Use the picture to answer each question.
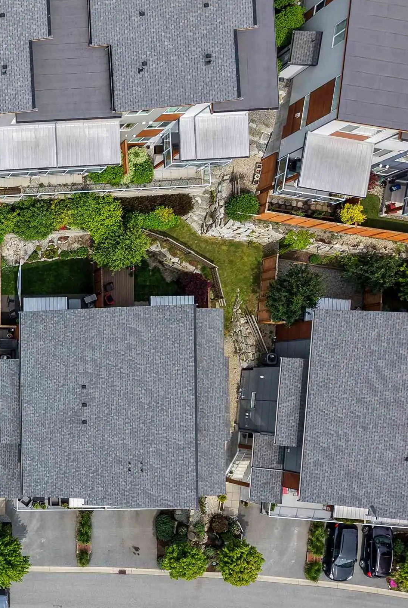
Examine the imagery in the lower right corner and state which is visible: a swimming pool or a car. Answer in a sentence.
There is a car in the lower right corner.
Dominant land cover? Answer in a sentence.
The scene is dominated by buildings.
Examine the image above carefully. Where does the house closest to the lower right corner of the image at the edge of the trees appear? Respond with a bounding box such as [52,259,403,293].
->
[225,297,408,527]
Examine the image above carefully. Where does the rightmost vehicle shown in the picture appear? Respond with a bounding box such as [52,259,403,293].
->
[356,524,392,579]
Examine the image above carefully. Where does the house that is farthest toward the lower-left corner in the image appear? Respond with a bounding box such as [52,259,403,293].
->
[0,295,231,510]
